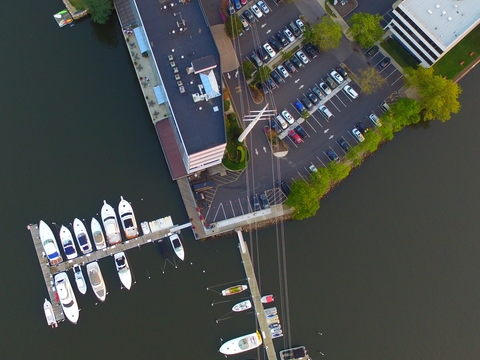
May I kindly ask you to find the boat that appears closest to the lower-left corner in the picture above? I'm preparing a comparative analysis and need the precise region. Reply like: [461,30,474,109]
[44,298,56,326]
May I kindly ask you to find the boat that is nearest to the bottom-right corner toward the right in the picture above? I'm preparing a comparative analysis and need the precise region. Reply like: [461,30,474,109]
[276,345,308,360]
